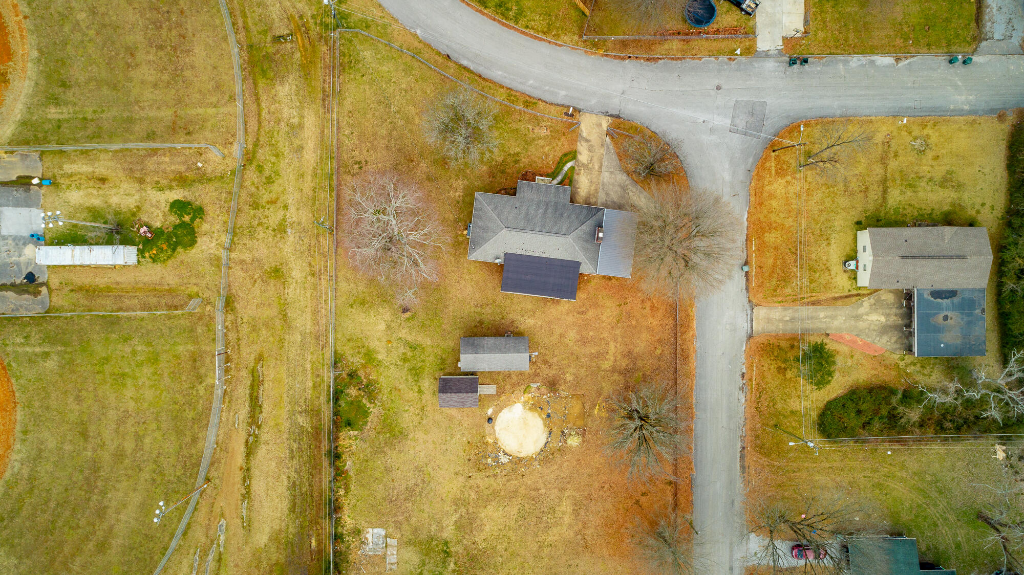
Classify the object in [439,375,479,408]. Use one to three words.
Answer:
shed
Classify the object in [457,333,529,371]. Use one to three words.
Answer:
shed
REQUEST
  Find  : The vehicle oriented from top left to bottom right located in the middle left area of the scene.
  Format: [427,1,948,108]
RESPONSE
[132,221,154,241]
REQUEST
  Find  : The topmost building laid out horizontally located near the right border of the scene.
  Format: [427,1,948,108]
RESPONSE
[857,223,993,289]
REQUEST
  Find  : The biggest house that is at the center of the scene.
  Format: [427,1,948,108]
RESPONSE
[467,175,638,302]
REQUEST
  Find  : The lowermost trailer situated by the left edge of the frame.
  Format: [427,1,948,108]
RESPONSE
[35,245,146,265]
